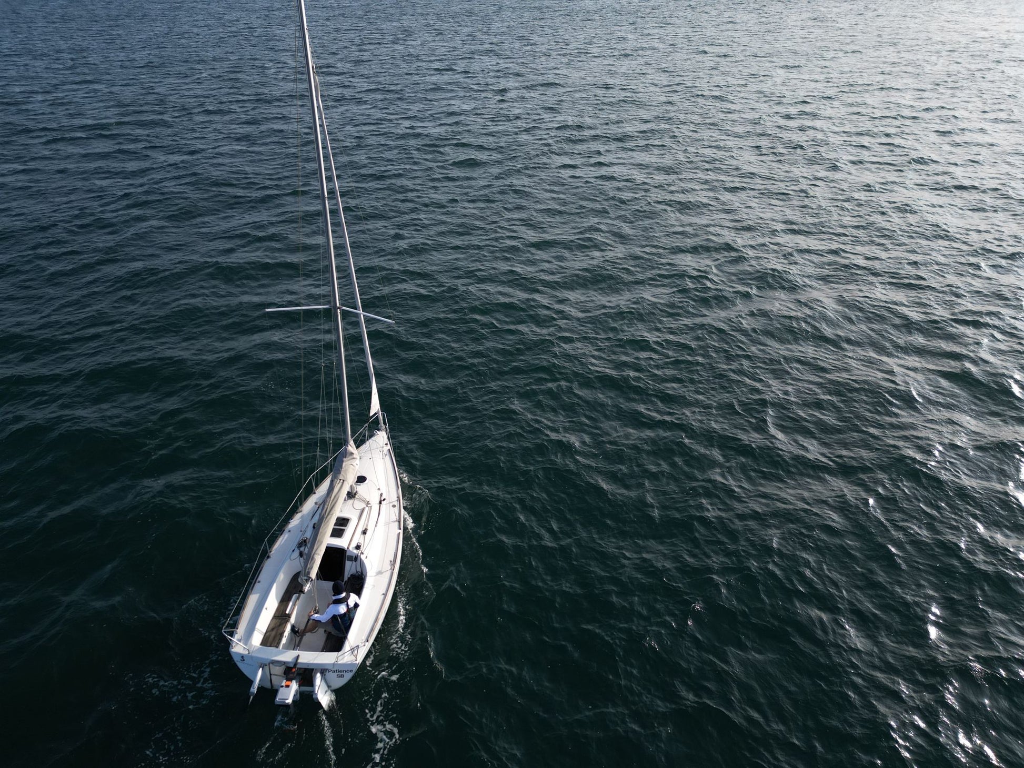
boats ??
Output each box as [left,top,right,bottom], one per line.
[225,0,405,707]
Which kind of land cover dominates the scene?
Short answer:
water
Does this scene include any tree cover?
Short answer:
No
